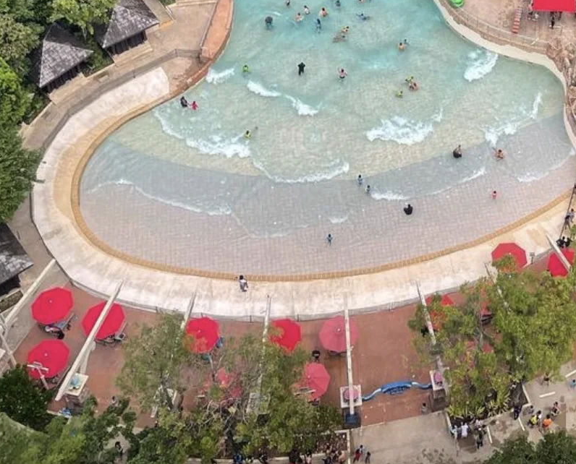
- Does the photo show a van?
No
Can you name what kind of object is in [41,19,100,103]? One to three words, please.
shed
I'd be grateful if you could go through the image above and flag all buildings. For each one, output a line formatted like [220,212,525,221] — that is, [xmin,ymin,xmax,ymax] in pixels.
[41,19,100,103]
[0,223,38,306]
[103,0,163,65]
